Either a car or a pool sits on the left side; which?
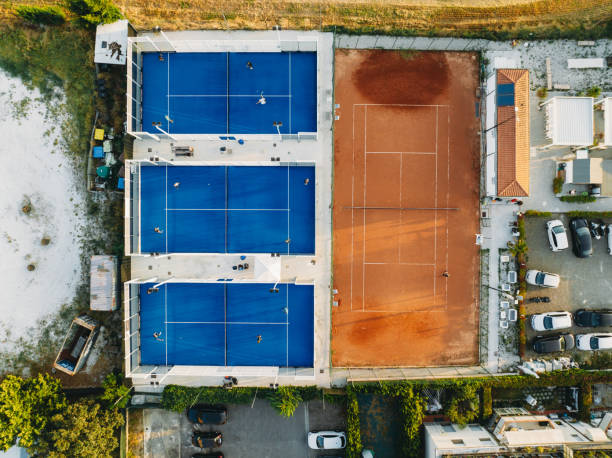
car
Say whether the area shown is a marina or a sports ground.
sports ground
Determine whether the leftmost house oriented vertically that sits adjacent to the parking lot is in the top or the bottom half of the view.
top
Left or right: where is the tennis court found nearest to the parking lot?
right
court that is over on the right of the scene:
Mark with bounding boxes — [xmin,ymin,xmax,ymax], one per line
[331,49,481,368]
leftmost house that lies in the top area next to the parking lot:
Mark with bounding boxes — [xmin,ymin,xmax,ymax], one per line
[488,68,531,197]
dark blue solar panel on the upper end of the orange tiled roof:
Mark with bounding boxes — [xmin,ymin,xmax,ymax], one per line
[498,81,515,107]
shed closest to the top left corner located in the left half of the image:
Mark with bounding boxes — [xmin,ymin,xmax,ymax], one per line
[94,20,137,71]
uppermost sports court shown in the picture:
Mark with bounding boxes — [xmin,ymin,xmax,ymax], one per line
[127,36,319,142]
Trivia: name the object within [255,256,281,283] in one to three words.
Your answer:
umbrella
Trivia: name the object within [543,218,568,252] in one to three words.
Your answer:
car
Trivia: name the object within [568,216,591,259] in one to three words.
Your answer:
car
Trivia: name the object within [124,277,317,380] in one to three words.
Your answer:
sports court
